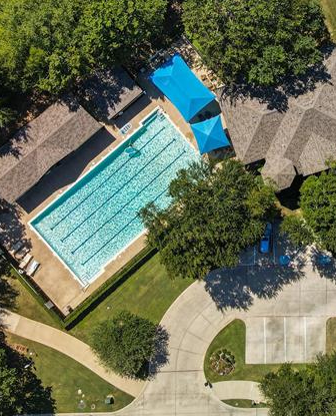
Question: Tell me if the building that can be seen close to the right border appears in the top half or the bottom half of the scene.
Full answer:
You can find the building that can be seen close to the right border in the top half.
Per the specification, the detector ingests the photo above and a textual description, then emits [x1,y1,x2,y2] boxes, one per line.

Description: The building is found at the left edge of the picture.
[0,103,104,203]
